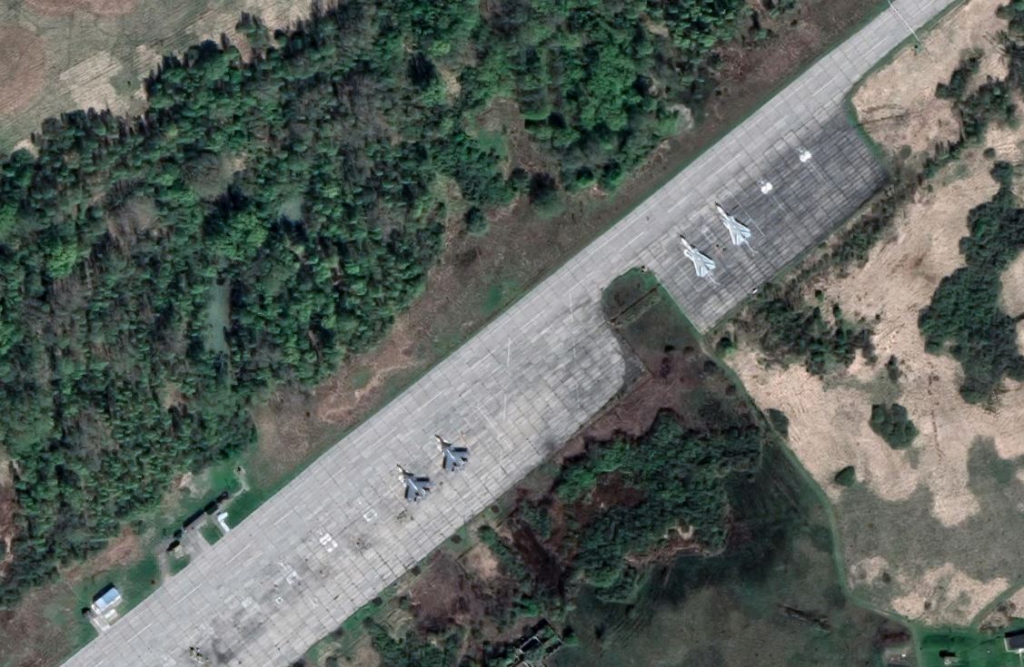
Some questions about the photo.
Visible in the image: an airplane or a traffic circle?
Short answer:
airplane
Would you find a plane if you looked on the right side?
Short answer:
Yes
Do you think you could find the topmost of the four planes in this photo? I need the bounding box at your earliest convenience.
[714,202,751,245]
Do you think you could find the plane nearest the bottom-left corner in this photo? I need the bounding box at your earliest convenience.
[398,468,431,504]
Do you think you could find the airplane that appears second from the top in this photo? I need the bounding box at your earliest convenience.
[681,237,716,278]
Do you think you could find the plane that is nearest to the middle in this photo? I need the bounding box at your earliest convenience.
[434,436,468,473]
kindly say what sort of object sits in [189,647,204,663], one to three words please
vehicle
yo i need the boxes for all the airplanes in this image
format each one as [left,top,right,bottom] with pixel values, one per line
[434,436,468,473]
[681,237,716,278]
[714,202,751,245]
[398,468,431,504]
